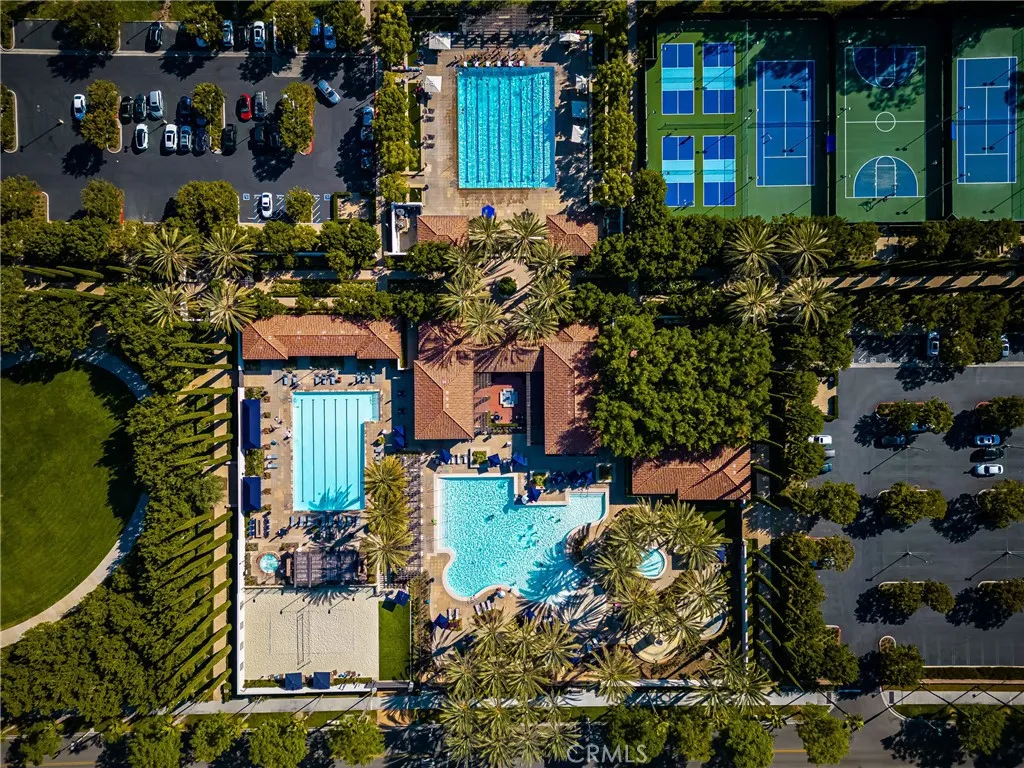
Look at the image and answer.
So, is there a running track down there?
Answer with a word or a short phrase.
No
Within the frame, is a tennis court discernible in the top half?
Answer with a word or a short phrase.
Yes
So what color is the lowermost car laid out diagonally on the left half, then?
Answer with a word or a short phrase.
blue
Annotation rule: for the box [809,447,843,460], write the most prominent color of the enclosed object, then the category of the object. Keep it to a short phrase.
gray vehicle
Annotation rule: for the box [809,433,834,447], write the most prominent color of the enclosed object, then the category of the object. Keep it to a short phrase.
white car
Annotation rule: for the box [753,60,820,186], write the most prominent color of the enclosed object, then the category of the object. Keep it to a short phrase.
blue tennis court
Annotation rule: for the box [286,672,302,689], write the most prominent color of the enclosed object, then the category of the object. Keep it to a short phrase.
blue umbrella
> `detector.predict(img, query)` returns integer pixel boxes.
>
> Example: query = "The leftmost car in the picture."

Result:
[70,92,85,120]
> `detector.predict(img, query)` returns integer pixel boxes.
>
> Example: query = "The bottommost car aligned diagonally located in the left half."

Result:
[316,77,340,104]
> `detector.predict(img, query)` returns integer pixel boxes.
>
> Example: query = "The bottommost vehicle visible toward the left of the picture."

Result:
[258,191,272,218]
